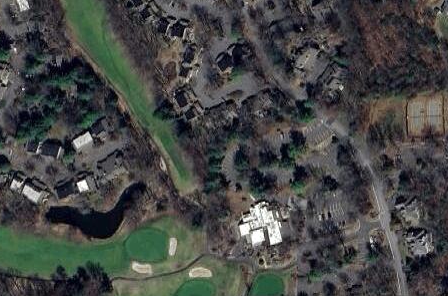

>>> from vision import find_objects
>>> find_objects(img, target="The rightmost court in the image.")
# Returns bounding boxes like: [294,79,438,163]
[427,97,444,136]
